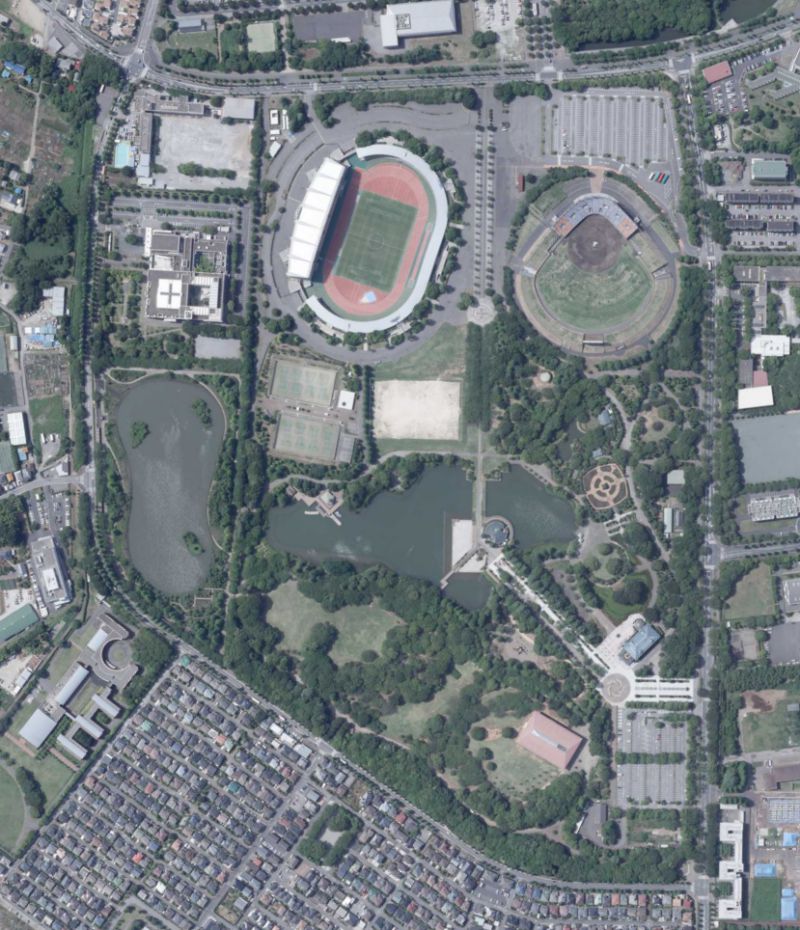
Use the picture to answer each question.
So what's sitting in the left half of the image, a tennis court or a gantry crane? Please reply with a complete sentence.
Visible in the left half of the image is a tennis court.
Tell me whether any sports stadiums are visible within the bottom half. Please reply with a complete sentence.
No, I can find no sports stadium within the bottom half.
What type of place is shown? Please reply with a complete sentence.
The picture captures a residential area.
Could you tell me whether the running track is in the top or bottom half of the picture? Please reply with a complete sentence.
The running track is in the top half of the image.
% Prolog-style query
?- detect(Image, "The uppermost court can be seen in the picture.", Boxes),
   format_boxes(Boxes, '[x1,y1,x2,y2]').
[247,22,276,53]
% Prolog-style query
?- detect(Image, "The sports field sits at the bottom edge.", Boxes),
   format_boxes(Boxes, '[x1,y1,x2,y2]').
[750,878,781,921]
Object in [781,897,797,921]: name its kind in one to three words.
shed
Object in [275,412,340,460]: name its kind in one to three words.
tennis court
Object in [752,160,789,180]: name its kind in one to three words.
building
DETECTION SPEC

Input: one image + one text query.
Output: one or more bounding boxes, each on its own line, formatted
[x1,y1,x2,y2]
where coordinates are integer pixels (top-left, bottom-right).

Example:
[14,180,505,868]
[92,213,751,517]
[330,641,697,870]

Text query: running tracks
[323,165,430,317]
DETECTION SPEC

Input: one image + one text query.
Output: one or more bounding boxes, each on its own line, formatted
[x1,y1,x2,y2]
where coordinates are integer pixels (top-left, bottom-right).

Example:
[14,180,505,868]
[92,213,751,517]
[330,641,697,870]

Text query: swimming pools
[113,141,132,167]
